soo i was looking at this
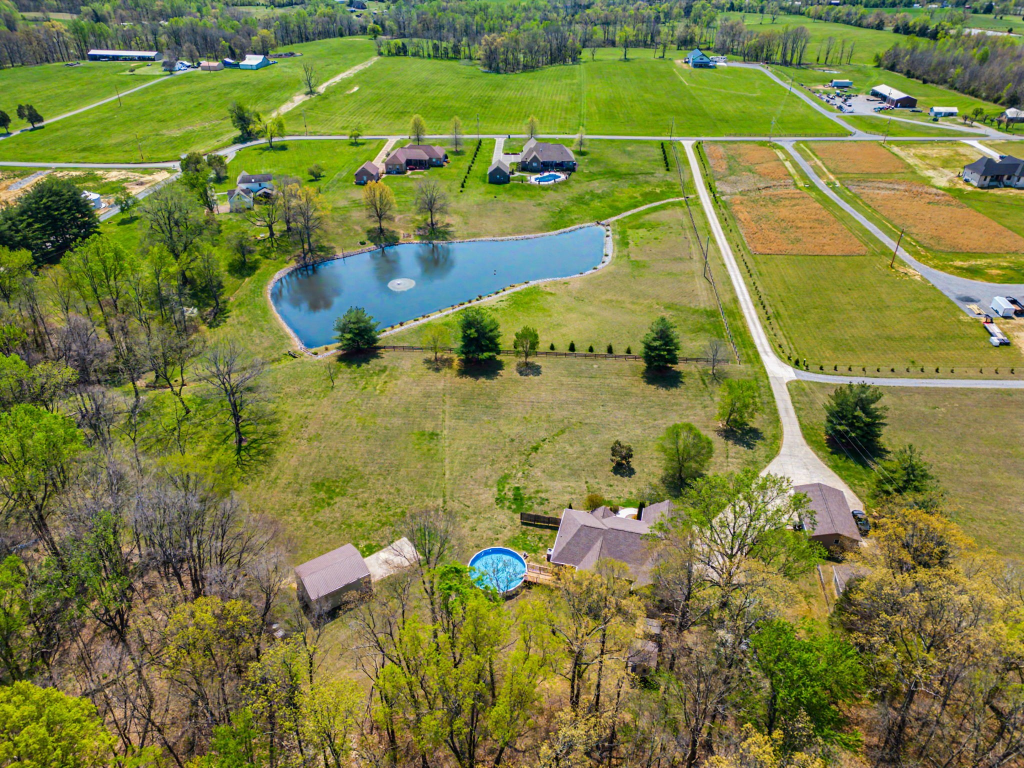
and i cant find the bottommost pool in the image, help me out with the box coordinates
[468,549,528,601]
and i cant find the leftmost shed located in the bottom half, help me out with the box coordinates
[296,544,372,615]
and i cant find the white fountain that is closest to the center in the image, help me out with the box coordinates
[387,278,416,291]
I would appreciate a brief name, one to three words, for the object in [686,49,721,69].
house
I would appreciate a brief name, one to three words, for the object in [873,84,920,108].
barn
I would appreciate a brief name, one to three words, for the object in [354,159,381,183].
building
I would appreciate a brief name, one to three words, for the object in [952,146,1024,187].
house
